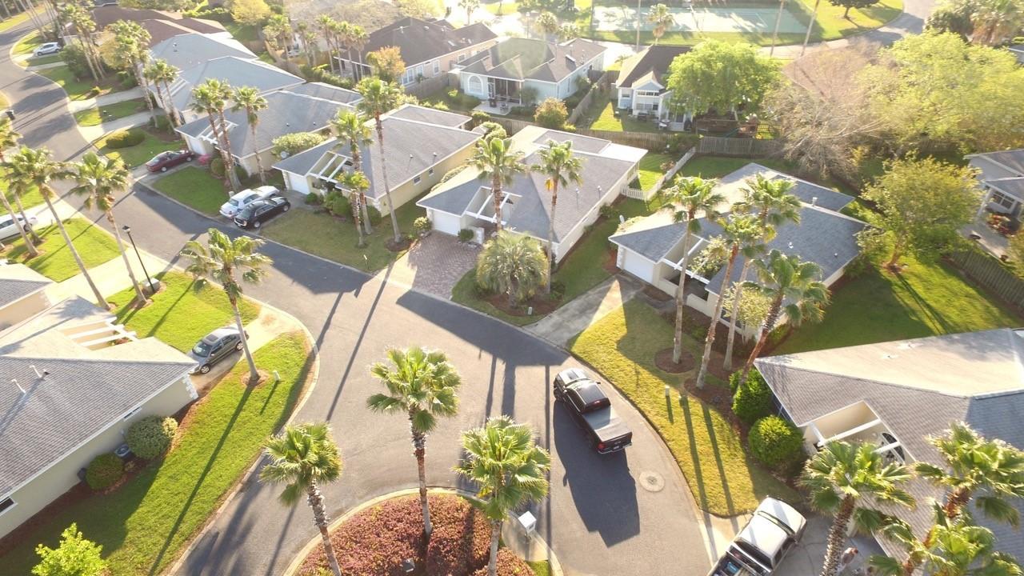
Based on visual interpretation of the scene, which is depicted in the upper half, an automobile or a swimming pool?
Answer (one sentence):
Visible in the upper half is an automobile.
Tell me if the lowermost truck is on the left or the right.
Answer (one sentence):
The lowermost truck appears in the right half of the scene.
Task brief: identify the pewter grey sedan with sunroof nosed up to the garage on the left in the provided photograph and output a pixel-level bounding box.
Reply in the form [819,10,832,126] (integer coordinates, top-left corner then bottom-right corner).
[189,327,257,379]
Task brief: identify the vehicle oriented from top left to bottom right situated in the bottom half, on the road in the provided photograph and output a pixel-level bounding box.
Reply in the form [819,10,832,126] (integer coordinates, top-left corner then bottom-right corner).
[553,372,634,460]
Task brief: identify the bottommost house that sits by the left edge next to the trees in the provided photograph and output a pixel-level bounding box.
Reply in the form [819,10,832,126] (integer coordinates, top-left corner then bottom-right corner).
[0,294,200,538]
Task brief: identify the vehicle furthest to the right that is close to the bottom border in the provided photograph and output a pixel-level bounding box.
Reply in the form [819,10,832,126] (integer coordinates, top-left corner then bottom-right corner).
[704,502,803,576]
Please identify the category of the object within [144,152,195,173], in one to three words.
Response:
car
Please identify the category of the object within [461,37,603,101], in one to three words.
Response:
house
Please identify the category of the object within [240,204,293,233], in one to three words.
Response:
car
